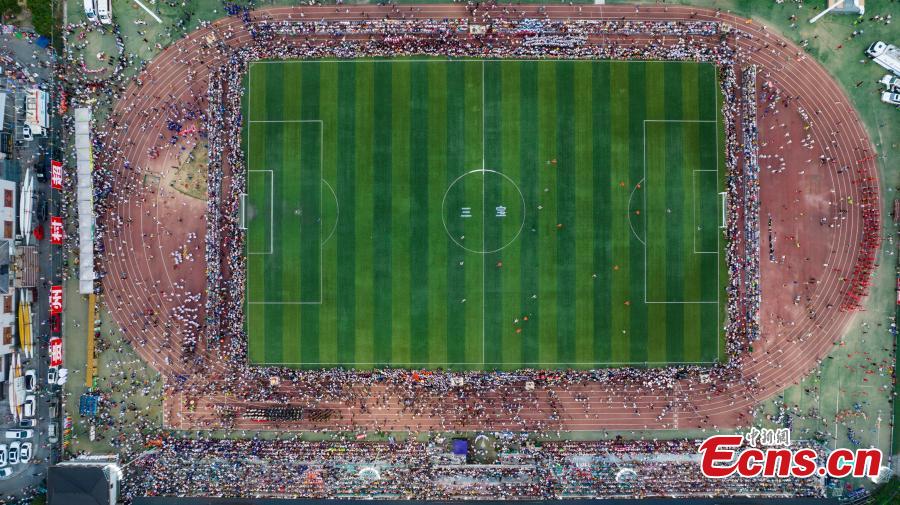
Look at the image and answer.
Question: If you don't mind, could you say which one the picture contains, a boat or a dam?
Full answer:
Visible in the photo is a boat.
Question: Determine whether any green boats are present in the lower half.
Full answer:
No, looking in the lower half, there is no green boat.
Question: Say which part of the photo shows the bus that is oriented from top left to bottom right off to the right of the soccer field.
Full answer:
The bus that is oriented from top left to bottom right off to the right of the soccer field appears toward the top right of the photo.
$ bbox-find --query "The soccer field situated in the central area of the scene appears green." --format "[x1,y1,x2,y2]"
[244,56,725,369]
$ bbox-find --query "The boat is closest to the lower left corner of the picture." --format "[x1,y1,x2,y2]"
[8,352,28,423]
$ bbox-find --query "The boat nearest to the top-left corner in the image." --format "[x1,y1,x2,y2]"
[20,167,38,244]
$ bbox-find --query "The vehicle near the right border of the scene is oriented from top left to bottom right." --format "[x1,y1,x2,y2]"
[860,43,900,78]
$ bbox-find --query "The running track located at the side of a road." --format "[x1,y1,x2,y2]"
[86,4,879,432]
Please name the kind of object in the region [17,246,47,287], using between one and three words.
building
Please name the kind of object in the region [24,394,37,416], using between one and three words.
vehicle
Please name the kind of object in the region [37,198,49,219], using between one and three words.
vehicle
